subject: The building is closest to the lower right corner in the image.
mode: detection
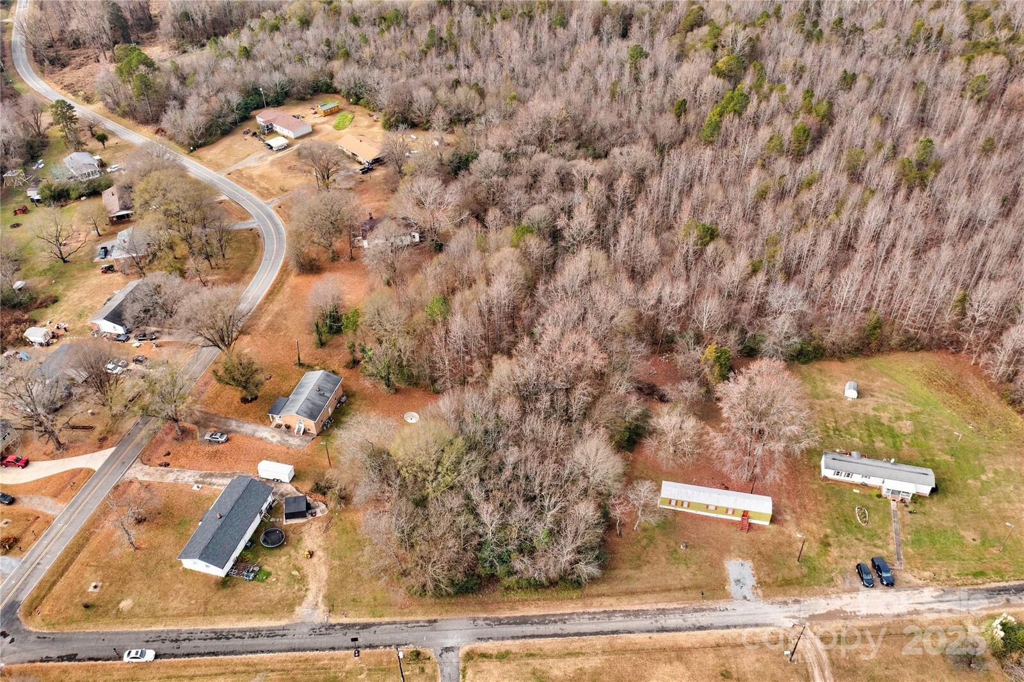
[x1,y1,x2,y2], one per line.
[820,450,934,503]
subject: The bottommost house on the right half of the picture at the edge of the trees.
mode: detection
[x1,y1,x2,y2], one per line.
[658,480,773,532]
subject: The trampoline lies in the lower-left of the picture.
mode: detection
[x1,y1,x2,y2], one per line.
[259,529,284,548]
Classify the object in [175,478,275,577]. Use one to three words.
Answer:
house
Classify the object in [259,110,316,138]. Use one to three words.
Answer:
house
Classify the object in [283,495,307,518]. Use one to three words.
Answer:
shed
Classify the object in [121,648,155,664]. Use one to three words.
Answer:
car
